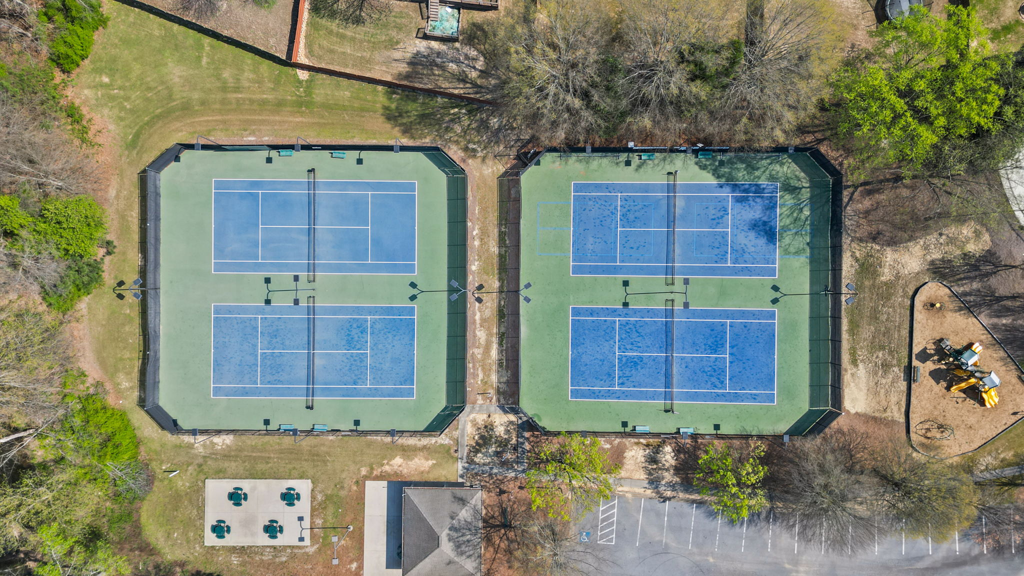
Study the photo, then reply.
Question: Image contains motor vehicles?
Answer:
No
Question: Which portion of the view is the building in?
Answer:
bottom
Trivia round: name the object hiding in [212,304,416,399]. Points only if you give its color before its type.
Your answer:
blue tennis court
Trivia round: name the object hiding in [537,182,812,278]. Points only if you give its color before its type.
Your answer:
blue tennis court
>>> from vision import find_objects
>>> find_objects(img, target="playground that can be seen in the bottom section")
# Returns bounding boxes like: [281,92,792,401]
[937,340,1003,407]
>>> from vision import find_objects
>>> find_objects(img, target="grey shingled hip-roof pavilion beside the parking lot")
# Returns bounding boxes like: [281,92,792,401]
[402,483,483,576]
